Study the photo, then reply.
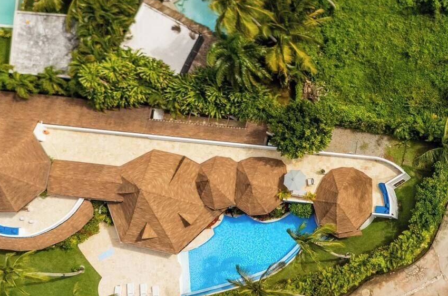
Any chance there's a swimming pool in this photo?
Yes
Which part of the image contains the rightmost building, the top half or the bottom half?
bottom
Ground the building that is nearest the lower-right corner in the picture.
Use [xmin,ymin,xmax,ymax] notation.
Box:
[313,166,376,238]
